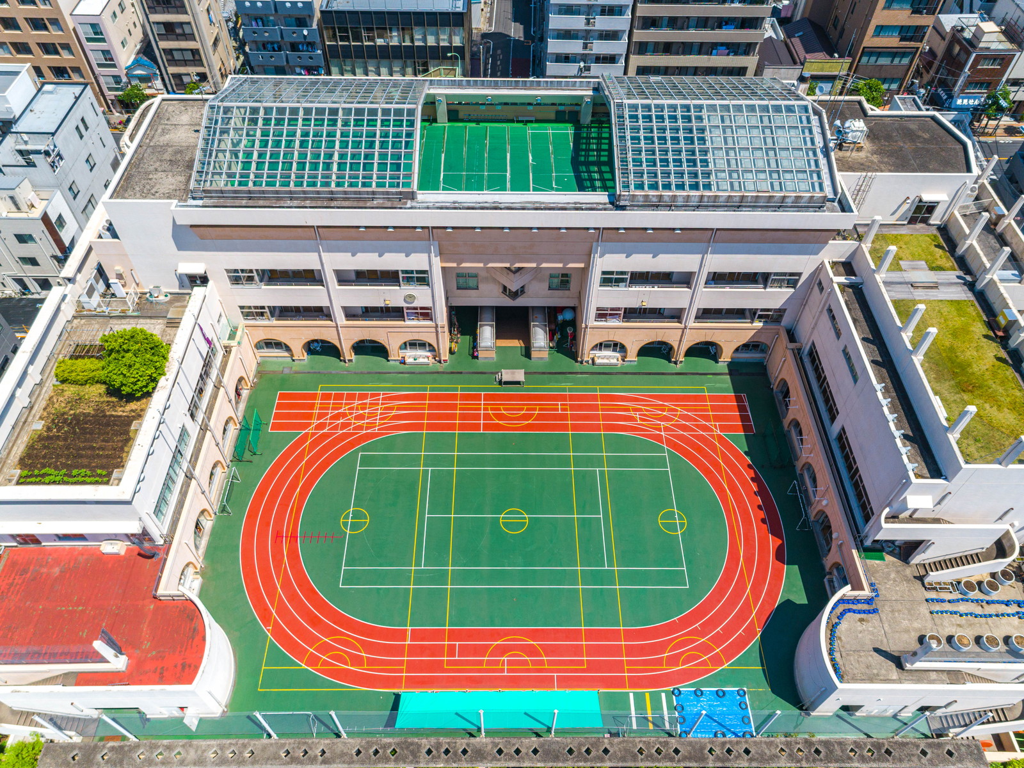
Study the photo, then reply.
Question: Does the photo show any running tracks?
Yes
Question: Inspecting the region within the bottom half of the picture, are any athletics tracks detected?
Yes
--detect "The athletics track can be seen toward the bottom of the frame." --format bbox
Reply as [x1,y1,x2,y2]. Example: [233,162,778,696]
[245,392,781,689]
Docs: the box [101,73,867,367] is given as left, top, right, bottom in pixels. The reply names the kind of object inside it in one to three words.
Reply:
building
